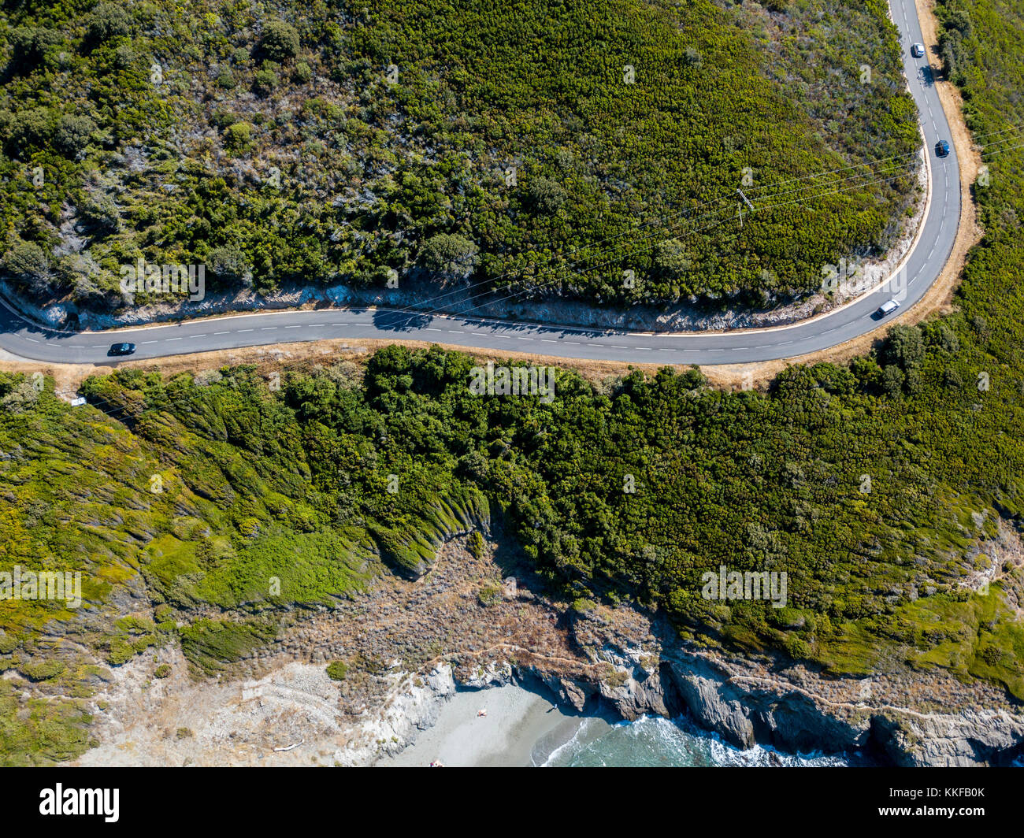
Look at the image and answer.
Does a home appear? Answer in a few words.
No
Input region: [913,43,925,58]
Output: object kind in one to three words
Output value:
vehicle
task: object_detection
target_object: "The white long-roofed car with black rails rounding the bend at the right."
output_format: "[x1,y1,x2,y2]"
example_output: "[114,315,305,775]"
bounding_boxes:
[877,300,899,316]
